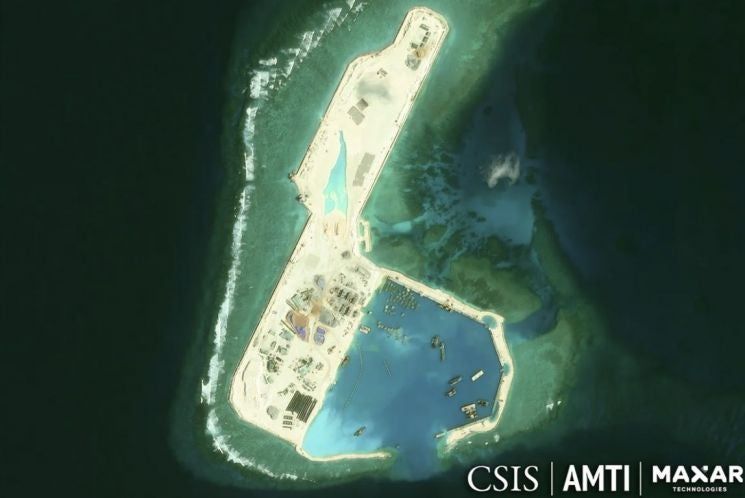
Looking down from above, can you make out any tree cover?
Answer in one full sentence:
No, the scene doesn't show any tree cover.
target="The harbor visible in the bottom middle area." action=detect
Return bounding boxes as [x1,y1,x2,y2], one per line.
[296,270,514,462]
